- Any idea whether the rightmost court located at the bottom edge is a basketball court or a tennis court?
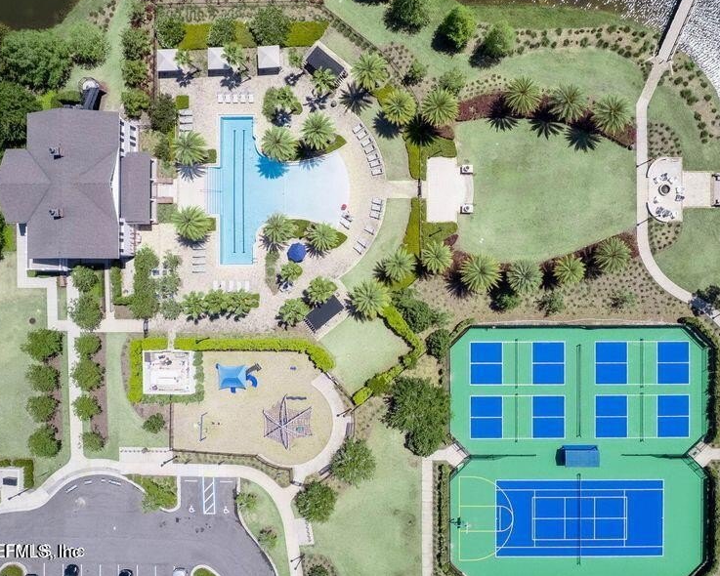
tennis court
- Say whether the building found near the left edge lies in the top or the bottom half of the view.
top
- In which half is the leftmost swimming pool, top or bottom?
top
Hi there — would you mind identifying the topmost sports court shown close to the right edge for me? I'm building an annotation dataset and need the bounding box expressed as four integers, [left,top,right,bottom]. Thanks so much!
[595,337,690,388]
